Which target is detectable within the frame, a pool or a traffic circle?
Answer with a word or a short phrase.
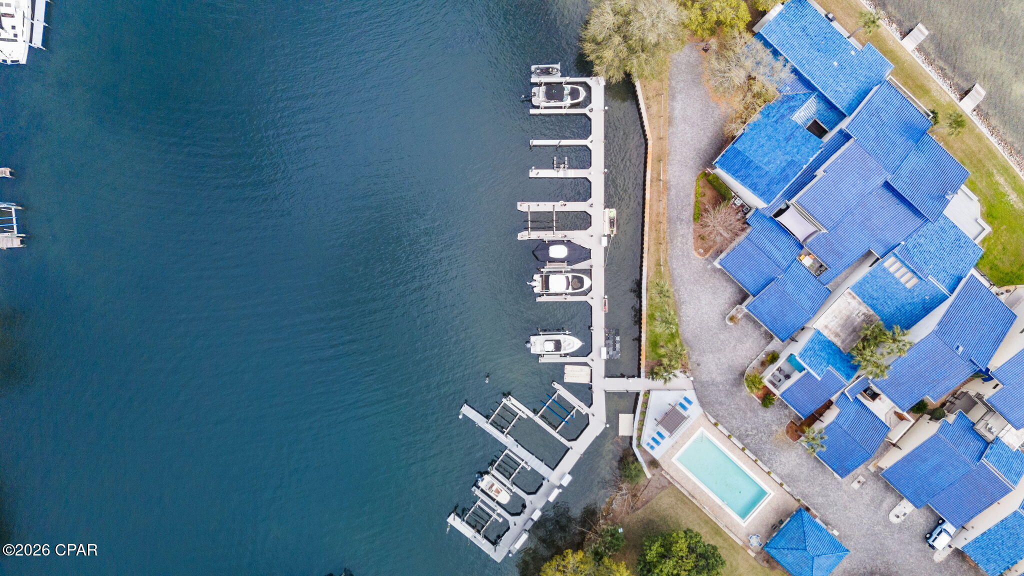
pool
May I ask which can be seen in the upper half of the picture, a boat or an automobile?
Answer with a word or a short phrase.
boat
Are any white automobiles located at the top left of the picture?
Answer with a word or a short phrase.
No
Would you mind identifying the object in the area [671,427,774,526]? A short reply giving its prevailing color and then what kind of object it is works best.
white swimming pool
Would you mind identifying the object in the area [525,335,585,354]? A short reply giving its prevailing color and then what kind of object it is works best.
white boat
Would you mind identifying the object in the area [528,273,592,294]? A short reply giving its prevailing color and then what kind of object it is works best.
white boat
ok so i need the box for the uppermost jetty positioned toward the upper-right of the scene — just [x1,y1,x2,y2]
[901,22,929,51]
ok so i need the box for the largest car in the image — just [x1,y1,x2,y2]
[924,519,952,550]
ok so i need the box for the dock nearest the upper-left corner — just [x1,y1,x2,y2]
[23,0,60,52]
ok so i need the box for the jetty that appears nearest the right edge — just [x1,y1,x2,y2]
[959,83,987,112]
